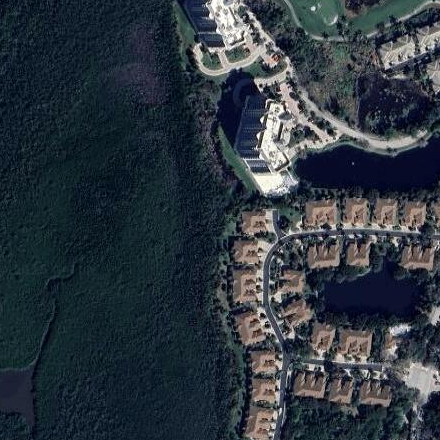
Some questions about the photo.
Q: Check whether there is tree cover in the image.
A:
Yes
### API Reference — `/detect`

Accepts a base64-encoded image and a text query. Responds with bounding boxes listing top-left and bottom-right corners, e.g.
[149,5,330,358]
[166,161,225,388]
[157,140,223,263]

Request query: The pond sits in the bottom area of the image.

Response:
[318,259,423,319]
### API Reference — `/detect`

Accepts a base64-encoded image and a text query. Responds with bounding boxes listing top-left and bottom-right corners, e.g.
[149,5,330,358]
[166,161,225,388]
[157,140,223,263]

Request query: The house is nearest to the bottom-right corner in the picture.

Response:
[357,380,392,409]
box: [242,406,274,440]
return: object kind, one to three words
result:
house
